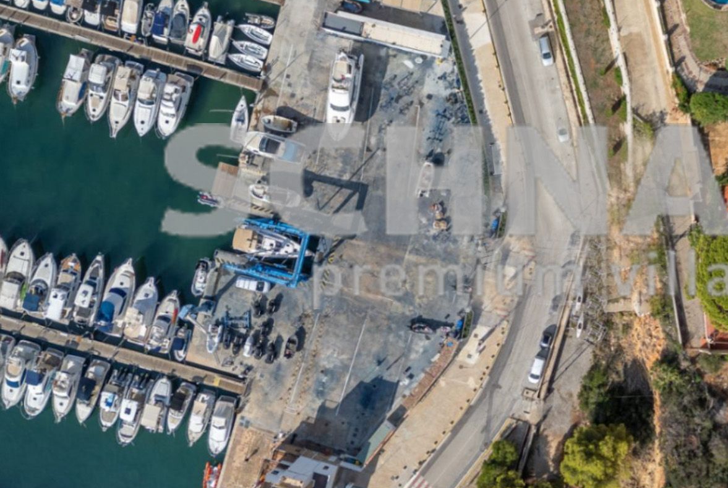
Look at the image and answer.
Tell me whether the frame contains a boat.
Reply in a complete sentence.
Yes, the picture does show a boat.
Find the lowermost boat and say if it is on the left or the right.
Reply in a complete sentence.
The lowermost boat appears in the left half of the scene.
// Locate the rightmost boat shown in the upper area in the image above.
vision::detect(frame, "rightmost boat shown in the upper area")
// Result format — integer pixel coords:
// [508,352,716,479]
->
[413,162,431,203]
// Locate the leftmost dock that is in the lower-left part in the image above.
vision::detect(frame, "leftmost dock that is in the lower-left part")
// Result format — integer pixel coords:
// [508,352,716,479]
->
[0,315,244,394]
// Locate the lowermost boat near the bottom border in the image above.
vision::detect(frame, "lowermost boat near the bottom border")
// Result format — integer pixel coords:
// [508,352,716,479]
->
[202,455,225,488]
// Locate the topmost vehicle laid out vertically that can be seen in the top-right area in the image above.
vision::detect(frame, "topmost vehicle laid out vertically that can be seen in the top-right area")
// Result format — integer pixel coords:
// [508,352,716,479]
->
[536,33,553,66]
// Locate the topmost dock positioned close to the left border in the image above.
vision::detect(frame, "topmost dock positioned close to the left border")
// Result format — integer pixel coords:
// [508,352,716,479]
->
[0,3,261,89]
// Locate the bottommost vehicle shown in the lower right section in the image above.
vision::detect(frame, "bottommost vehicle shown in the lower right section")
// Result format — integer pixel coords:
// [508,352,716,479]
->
[525,354,546,390]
